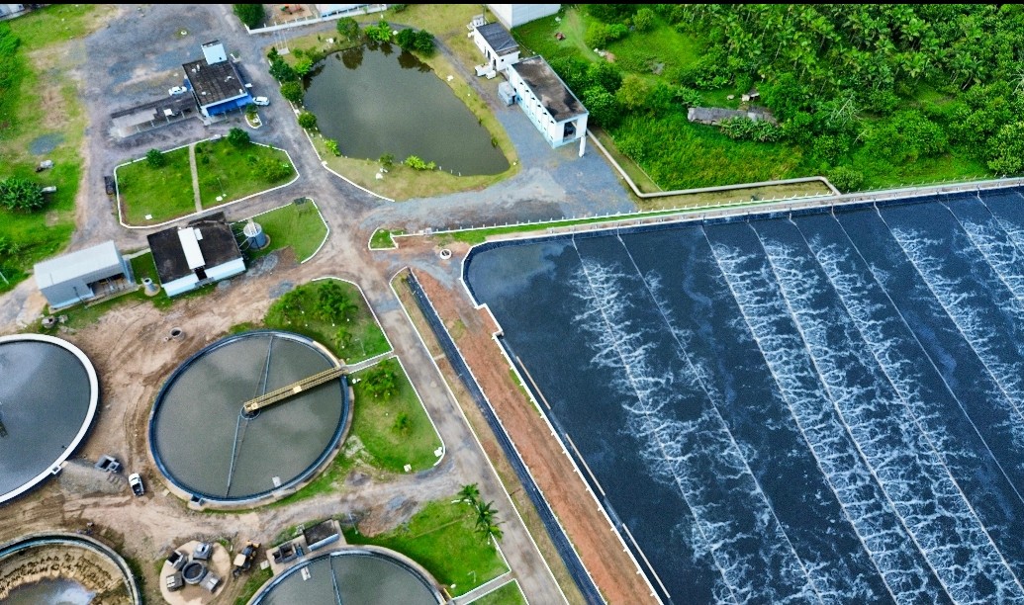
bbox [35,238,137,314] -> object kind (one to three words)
shed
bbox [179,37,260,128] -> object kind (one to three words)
building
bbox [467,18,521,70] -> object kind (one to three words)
building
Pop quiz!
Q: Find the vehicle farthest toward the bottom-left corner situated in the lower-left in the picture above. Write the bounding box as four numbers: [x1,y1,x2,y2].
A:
[127,473,146,500]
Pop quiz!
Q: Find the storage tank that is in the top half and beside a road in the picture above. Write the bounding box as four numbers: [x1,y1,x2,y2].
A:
[233,221,272,254]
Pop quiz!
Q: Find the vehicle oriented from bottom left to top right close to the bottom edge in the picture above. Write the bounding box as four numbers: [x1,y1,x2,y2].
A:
[230,540,264,578]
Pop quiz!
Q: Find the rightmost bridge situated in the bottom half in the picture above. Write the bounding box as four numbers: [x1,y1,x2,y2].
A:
[239,362,350,416]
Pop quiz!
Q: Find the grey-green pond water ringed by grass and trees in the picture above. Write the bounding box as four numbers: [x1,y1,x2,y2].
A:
[305,46,507,177]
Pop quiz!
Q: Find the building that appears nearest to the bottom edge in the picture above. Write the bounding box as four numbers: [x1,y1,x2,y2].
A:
[266,517,344,569]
